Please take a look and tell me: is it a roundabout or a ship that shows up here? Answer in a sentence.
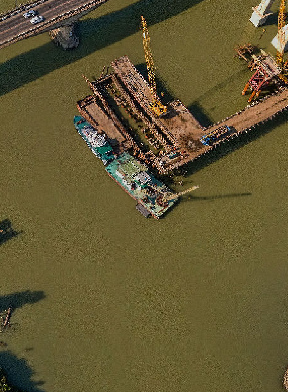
Visible in the photo is a ship.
